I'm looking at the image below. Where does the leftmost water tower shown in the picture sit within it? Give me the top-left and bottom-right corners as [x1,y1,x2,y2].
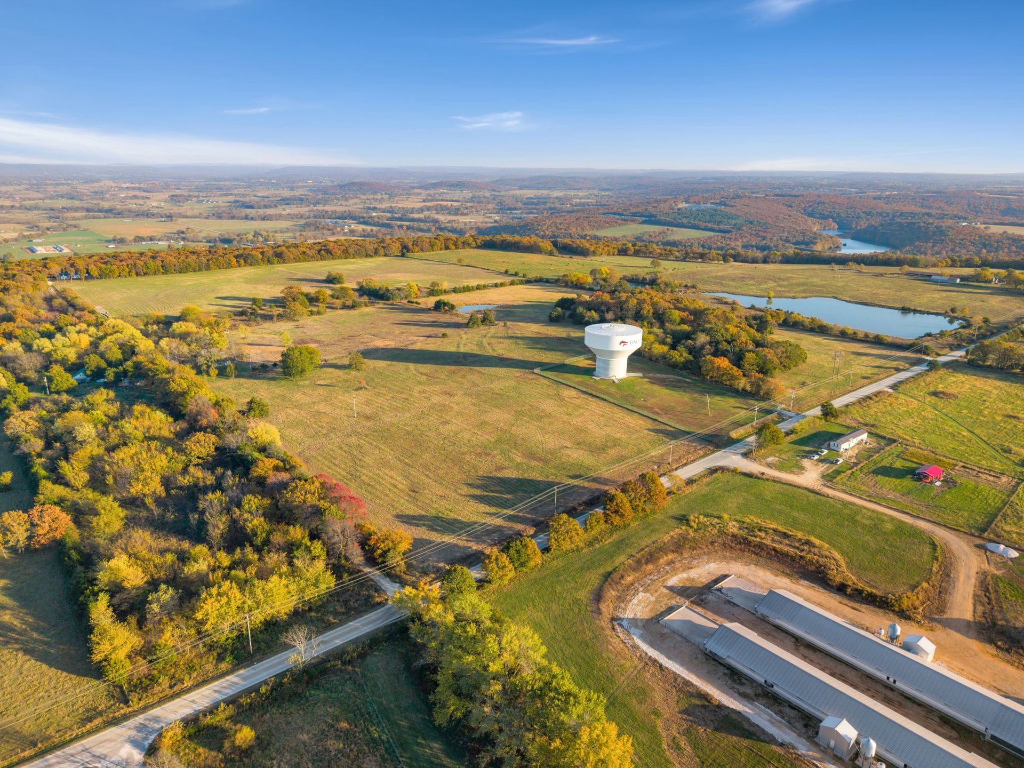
[584,326,641,380]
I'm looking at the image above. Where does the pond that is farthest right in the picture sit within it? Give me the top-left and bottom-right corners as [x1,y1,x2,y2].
[707,293,957,339]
